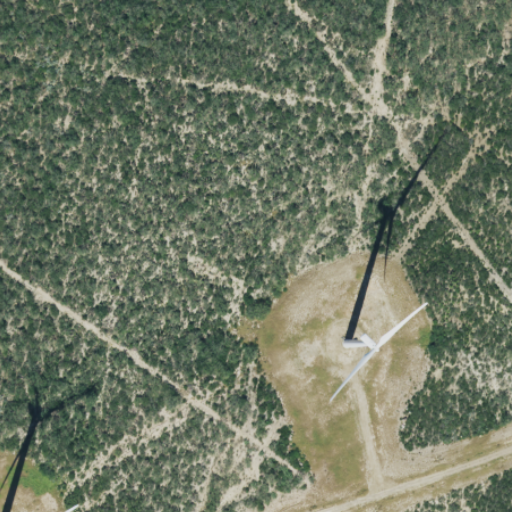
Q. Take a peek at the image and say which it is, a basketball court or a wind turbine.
wind turbine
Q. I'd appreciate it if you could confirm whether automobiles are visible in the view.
No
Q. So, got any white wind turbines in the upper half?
No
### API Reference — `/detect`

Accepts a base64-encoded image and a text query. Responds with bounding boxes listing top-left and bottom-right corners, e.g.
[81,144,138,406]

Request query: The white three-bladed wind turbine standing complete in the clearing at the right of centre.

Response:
[330,303,427,400]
